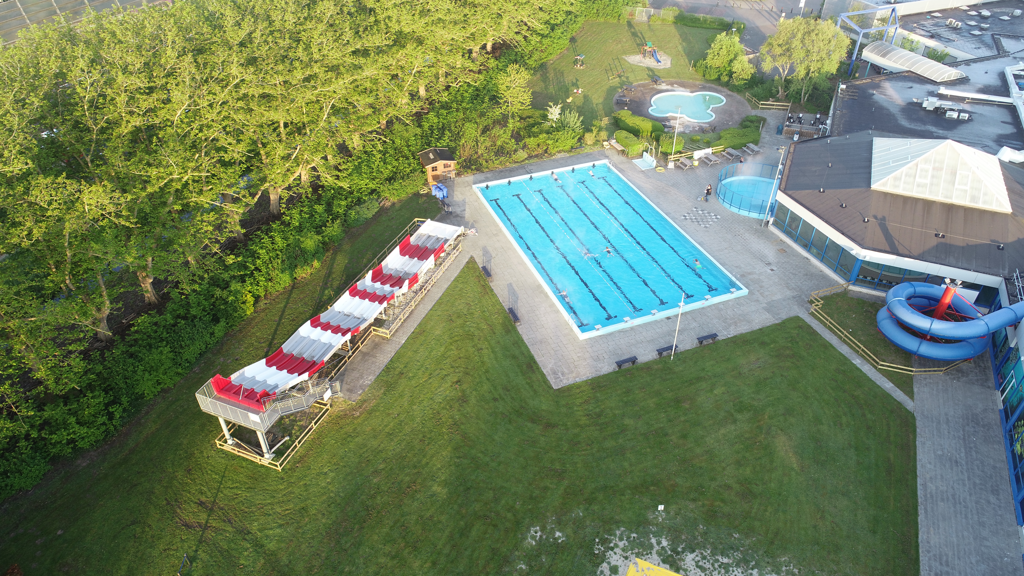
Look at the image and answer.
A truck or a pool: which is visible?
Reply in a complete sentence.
There is a pool in the scene.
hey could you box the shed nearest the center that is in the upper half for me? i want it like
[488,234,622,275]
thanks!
[417,146,459,182]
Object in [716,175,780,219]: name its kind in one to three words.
swimming pool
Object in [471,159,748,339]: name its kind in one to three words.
swimming pool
